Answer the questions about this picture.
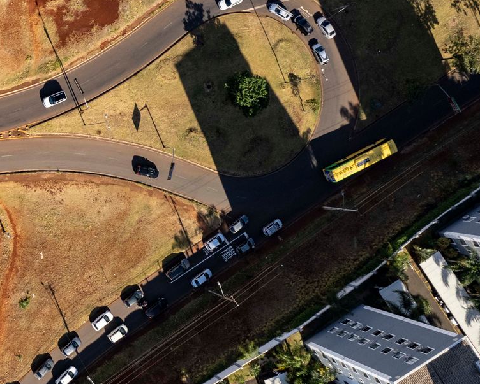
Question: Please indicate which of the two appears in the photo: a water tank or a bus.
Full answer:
The one in the frame is a bus.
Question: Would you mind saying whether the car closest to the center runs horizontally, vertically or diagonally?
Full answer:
The car closest to the center is oriented diagonally.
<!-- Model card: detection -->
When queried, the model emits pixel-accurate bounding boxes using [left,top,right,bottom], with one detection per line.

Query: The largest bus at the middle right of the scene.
[314,137,400,185]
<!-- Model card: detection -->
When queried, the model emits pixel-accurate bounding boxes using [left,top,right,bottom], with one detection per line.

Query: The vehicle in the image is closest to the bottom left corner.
[33,356,56,383]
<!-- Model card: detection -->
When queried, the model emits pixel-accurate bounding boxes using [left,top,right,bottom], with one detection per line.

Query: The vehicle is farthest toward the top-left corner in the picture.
[41,89,69,109]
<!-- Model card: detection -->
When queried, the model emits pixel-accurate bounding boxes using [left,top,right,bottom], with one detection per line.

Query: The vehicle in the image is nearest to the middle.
[226,212,249,236]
